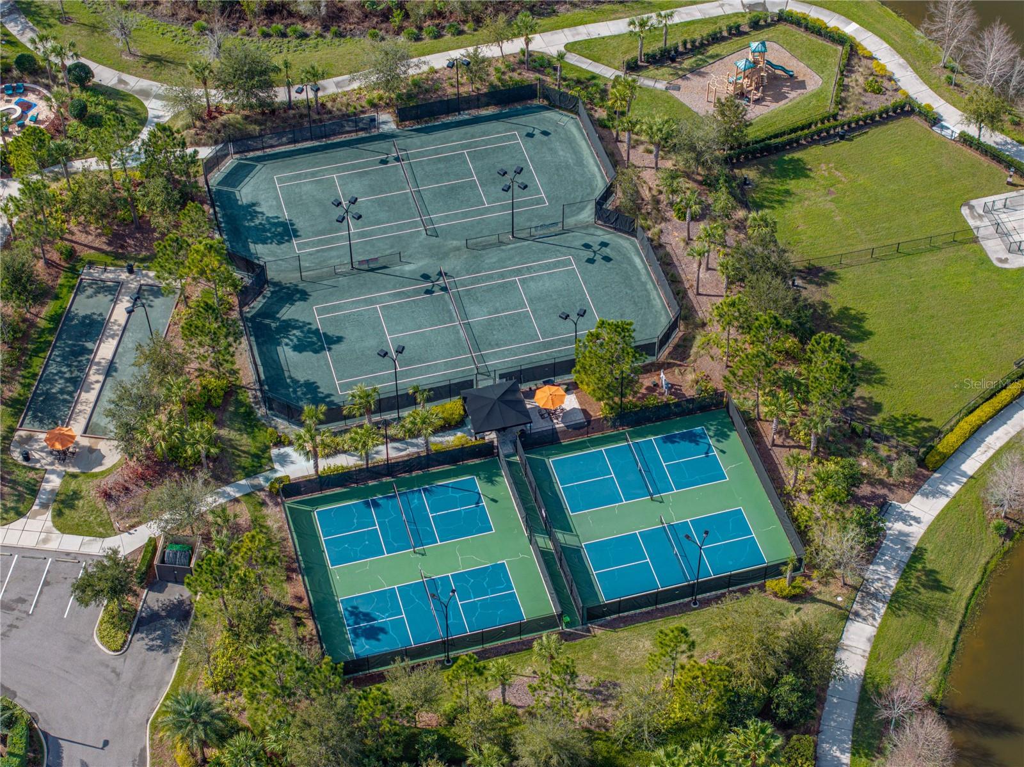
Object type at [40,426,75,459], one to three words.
umbrella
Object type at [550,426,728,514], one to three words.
sports court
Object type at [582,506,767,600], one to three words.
sports court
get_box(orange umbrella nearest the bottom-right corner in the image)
[534,385,569,411]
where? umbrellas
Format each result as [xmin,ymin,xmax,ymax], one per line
[534,385,569,411]
[40,426,75,459]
